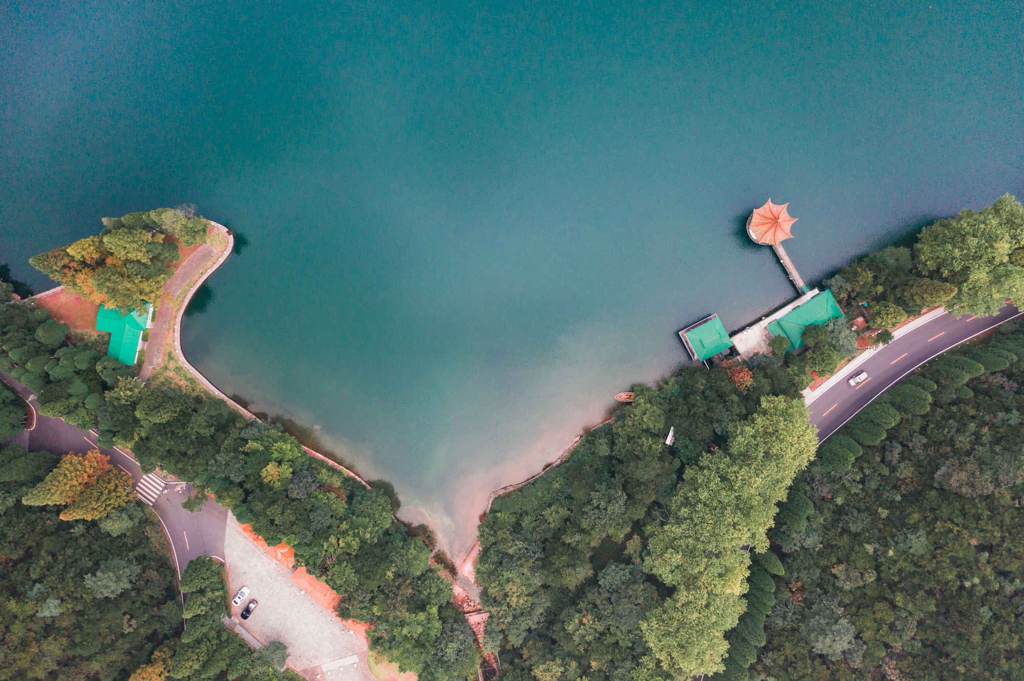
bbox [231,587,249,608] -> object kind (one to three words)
car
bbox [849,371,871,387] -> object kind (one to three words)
car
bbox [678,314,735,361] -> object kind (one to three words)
building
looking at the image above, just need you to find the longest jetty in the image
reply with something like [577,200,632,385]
[772,242,808,289]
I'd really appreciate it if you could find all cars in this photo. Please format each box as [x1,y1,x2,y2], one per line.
[239,600,257,622]
[231,587,249,608]
[849,371,871,387]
